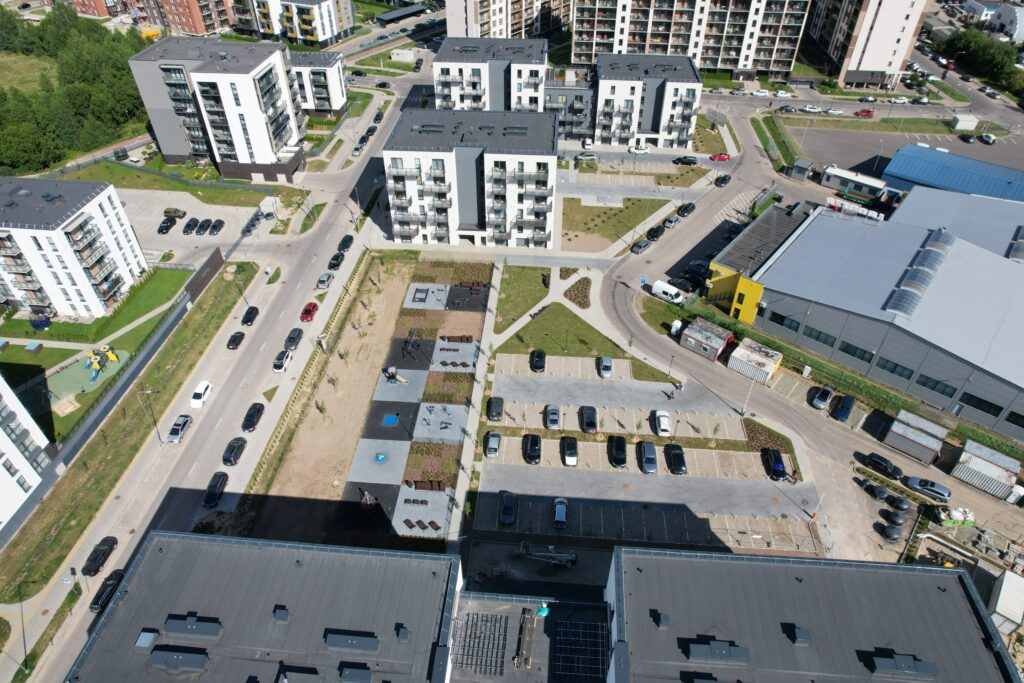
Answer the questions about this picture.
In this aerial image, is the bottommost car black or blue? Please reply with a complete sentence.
The bottommost car looks black in the image.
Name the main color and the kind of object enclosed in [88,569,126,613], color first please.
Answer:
black car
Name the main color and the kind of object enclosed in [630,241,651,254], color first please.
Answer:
gray vehicle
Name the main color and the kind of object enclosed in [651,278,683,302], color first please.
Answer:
white vehicle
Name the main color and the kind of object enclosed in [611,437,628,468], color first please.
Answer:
black car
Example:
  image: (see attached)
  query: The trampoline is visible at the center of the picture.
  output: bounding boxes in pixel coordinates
[409,286,432,301]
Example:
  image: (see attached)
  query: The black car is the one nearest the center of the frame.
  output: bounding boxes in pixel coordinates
[531,351,545,373]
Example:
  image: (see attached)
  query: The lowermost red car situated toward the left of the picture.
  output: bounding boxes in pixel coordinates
[300,303,318,322]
